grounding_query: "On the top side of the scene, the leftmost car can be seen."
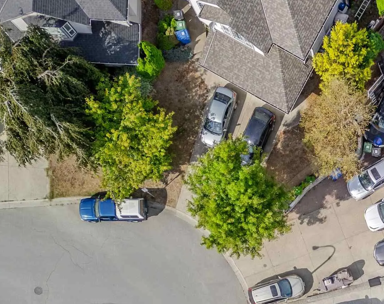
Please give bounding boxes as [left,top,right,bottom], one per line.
[198,86,239,149]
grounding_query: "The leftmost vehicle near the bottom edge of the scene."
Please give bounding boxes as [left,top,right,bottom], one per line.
[245,272,307,304]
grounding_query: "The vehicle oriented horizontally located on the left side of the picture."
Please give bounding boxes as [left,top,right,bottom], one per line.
[81,193,148,224]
